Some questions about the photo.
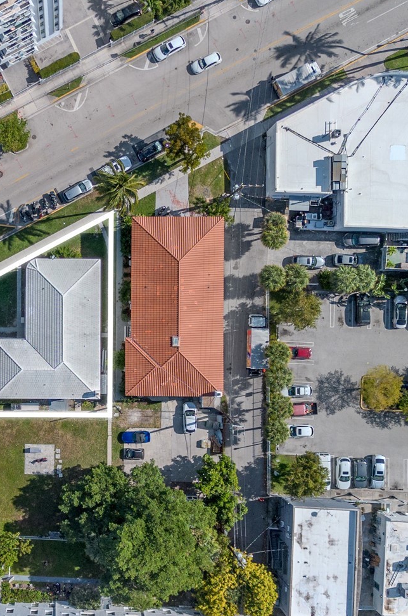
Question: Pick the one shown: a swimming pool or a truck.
truck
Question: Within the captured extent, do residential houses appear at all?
Yes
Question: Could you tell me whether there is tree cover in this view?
Yes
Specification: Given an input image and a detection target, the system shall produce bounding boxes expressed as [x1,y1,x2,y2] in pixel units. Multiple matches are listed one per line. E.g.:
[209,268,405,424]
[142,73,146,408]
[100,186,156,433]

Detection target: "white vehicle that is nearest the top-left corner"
[152,37,186,62]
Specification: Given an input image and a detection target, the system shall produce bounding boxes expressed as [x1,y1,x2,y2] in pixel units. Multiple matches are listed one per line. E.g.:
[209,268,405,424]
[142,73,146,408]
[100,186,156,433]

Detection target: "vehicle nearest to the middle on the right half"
[245,318,267,370]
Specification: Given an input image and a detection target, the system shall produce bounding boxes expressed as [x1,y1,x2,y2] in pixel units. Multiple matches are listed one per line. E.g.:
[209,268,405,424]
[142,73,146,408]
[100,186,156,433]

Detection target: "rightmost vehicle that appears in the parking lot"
[392,297,408,329]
